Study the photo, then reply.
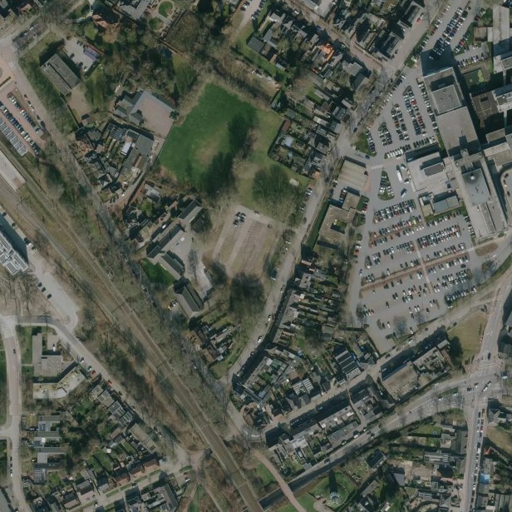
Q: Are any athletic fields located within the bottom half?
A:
No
